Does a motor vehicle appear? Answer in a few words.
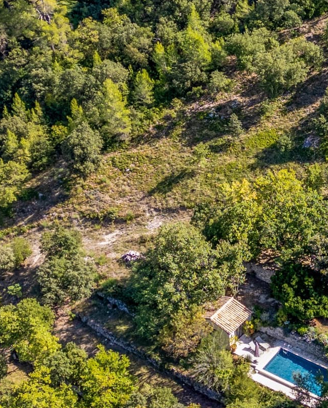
No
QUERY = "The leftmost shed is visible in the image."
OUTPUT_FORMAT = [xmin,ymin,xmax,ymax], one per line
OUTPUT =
[197,298,253,352]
